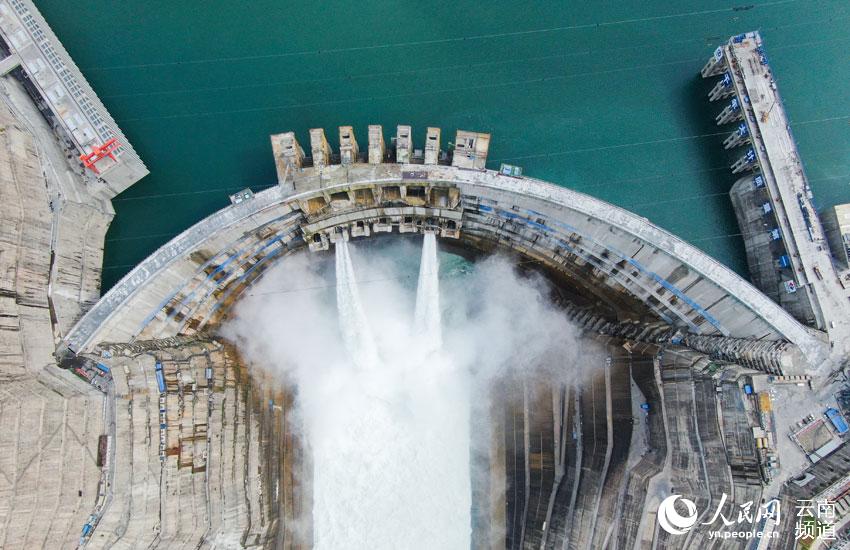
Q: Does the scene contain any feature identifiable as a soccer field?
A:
No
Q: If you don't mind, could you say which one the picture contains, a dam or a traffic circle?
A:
dam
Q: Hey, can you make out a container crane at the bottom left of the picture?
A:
No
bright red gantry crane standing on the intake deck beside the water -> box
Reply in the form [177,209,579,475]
[75,139,118,177]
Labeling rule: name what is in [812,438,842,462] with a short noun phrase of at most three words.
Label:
shed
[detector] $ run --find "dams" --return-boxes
[58,124,833,368]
